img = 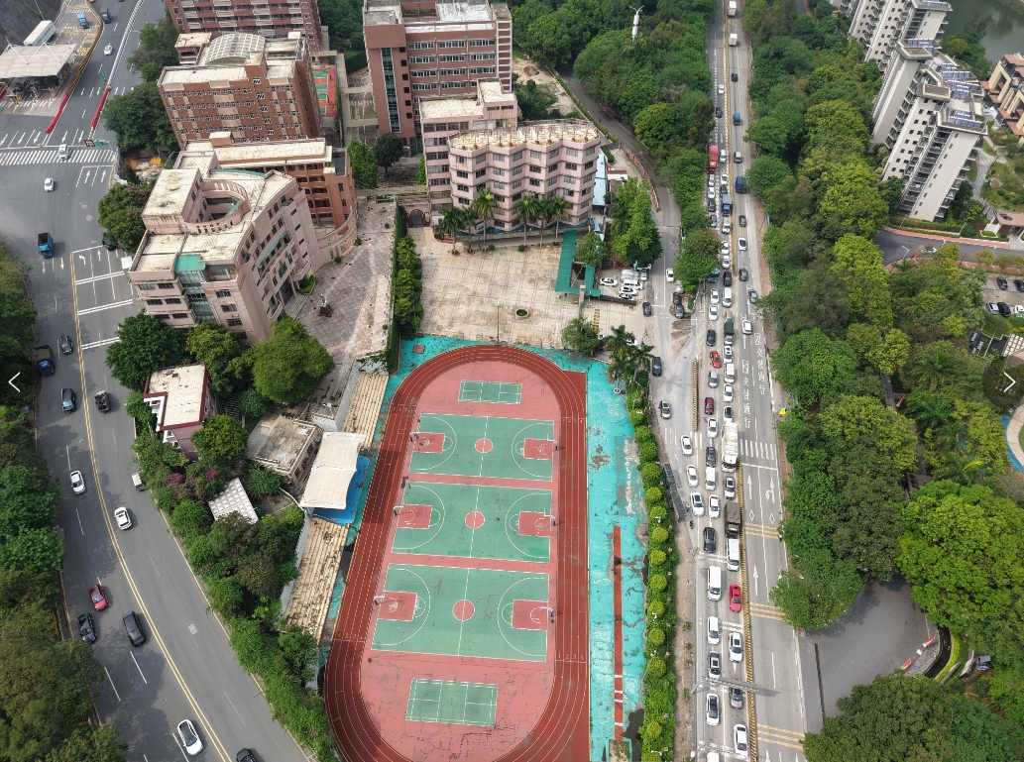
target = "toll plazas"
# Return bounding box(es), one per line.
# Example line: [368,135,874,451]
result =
[0,21,95,96]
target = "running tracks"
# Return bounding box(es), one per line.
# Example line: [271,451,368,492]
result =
[326,345,590,762]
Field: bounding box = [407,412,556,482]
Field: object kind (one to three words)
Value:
basketball court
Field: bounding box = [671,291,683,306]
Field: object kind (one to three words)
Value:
vehicle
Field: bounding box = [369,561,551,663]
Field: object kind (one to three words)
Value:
basketball court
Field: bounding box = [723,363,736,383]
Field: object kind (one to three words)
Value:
vehicle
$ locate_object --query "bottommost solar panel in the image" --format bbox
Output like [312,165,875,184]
[943,97,982,132]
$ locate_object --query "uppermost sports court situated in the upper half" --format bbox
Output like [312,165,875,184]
[311,65,332,116]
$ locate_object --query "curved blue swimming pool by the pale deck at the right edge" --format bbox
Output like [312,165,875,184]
[952,421,1024,480]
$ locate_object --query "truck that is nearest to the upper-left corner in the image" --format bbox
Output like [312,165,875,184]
[23,20,52,44]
